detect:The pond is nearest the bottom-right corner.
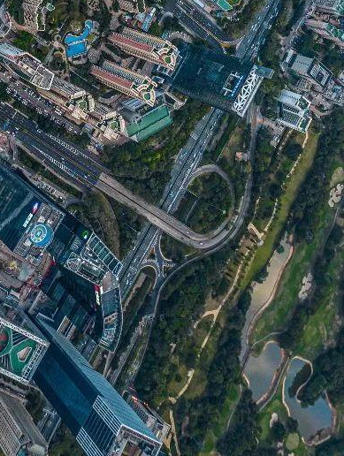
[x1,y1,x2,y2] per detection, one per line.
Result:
[285,359,332,442]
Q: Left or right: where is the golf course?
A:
right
